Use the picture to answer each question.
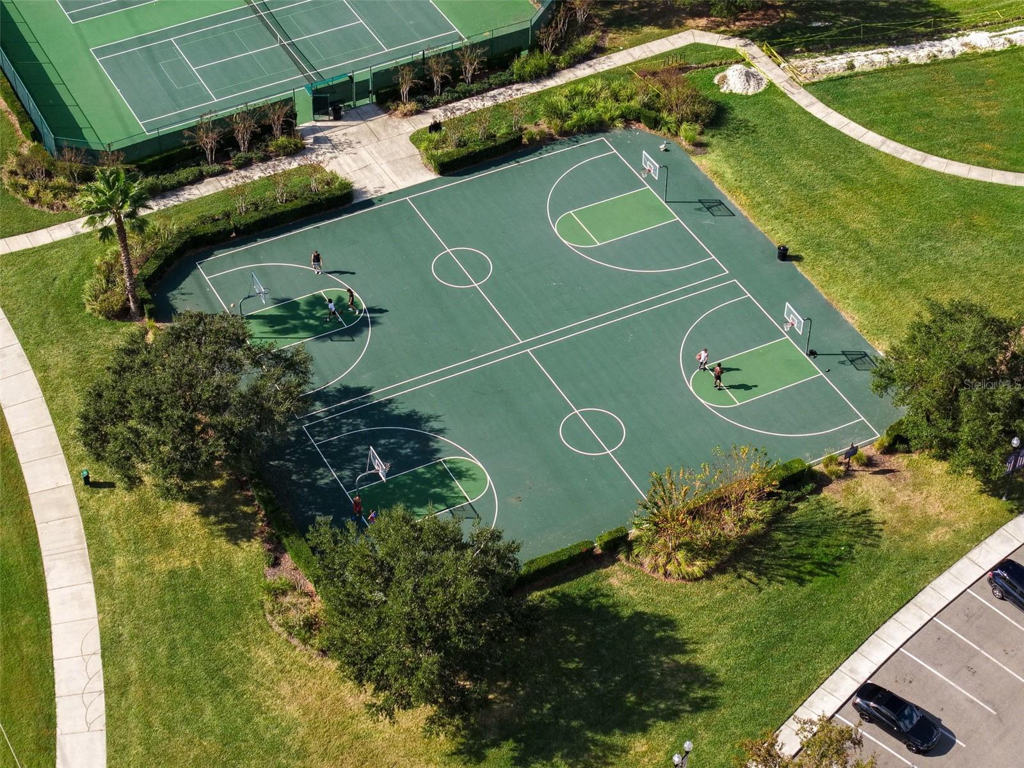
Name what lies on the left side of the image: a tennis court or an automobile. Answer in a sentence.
The feature located on the left side of the image is a tennis court.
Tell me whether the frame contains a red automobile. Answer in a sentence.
No, there appears to be no red automobile in this shot.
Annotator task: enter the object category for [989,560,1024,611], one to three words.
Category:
car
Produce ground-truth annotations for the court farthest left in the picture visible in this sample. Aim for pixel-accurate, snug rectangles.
[57,0,160,23]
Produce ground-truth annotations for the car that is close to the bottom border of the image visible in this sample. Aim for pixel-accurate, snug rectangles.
[854,683,952,757]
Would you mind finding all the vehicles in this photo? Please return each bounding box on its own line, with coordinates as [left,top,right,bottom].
[989,560,1024,611]
[854,683,952,757]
